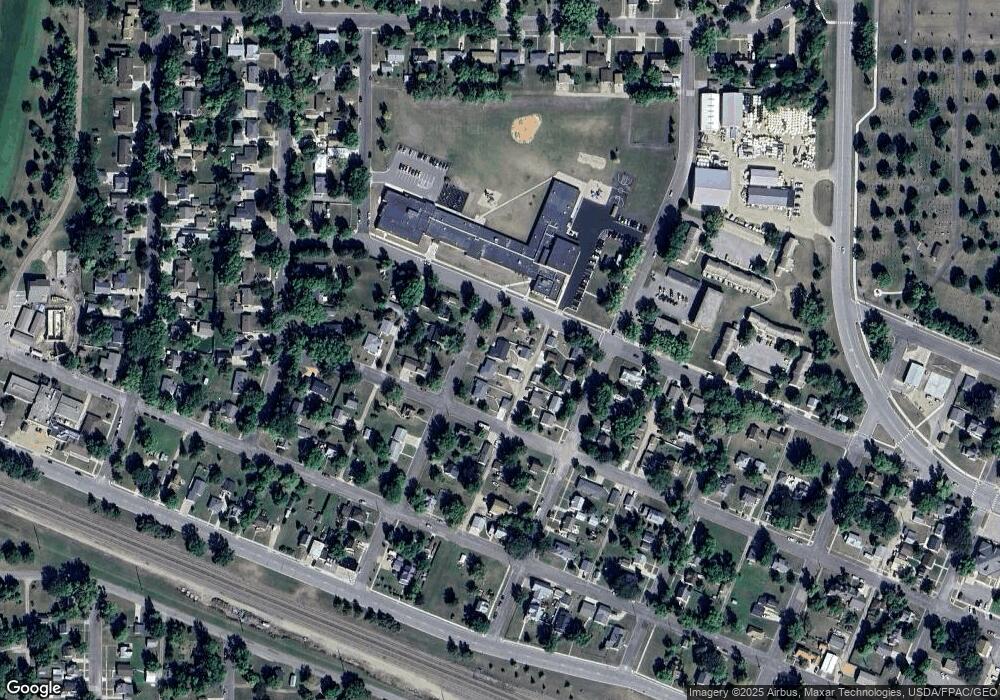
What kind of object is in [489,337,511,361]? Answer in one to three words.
house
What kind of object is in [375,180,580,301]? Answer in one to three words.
building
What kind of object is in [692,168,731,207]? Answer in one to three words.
shed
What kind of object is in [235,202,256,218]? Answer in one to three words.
house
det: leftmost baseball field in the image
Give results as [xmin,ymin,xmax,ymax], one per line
[511,114,541,144]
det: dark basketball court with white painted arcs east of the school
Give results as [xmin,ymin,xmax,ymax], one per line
[603,170,635,212]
